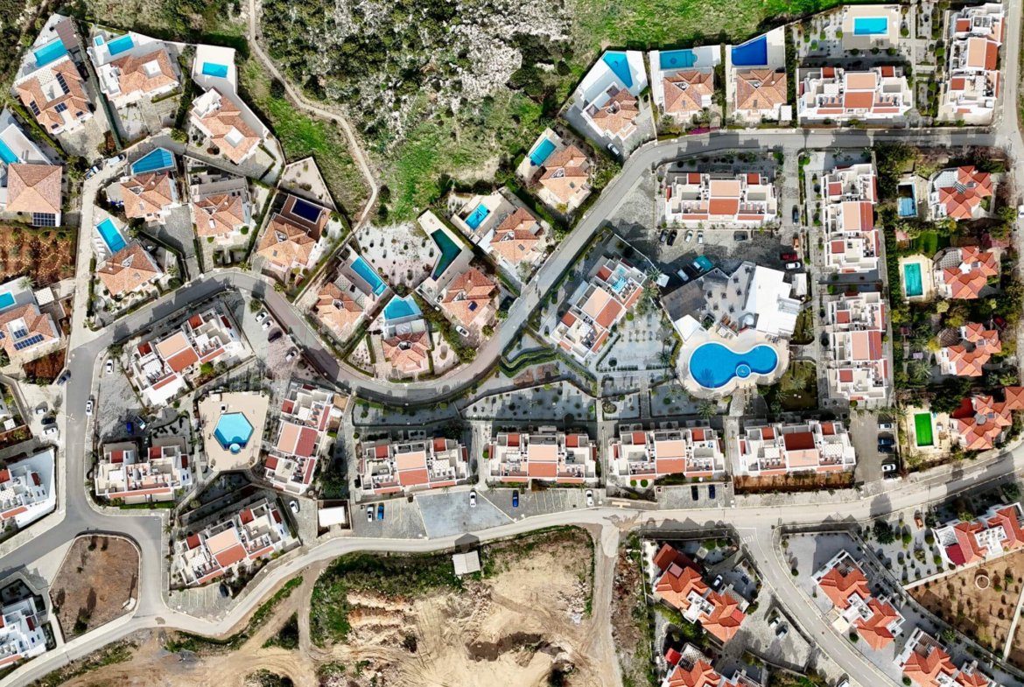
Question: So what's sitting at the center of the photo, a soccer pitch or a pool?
pool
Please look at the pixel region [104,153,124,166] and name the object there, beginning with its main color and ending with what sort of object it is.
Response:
white vehicle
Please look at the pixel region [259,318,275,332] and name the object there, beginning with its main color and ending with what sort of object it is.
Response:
white car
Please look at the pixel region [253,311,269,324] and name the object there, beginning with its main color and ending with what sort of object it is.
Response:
white vehicle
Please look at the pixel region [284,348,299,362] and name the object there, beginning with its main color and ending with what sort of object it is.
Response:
white car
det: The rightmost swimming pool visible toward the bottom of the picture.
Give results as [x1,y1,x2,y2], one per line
[901,405,949,456]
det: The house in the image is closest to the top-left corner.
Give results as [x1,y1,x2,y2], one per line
[13,52,101,138]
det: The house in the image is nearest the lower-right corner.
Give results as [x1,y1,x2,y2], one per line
[901,613,996,687]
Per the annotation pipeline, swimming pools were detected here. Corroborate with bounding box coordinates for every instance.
[88,31,168,69]
[901,405,949,456]
[517,131,567,186]
[93,207,138,262]
[899,254,932,301]
[280,195,332,242]
[649,45,721,105]
[840,4,898,51]
[0,124,52,166]
[129,145,179,176]
[724,24,785,102]
[0,277,37,314]
[192,44,239,94]
[677,328,789,399]
[896,179,930,221]
[734,362,752,379]
[416,211,474,303]
[451,188,516,245]
[198,390,269,471]
[577,50,648,102]
[336,244,391,301]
